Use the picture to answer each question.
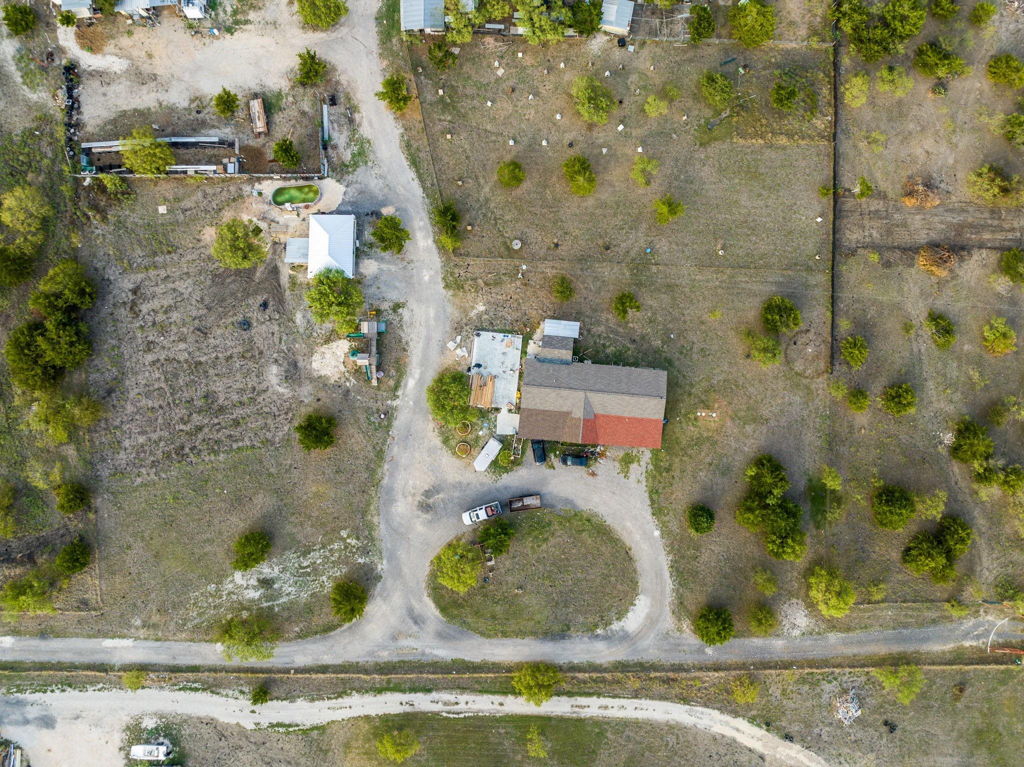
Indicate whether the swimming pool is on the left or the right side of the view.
left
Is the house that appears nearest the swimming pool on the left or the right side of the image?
left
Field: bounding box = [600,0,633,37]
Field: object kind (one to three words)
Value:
barn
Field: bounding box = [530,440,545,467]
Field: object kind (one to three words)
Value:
car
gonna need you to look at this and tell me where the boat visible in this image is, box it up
[131,745,169,760]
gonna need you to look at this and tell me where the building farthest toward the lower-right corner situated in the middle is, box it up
[518,319,667,448]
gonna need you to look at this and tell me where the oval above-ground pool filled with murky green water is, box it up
[270,183,323,208]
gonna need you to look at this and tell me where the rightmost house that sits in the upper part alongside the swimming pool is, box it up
[285,214,356,278]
